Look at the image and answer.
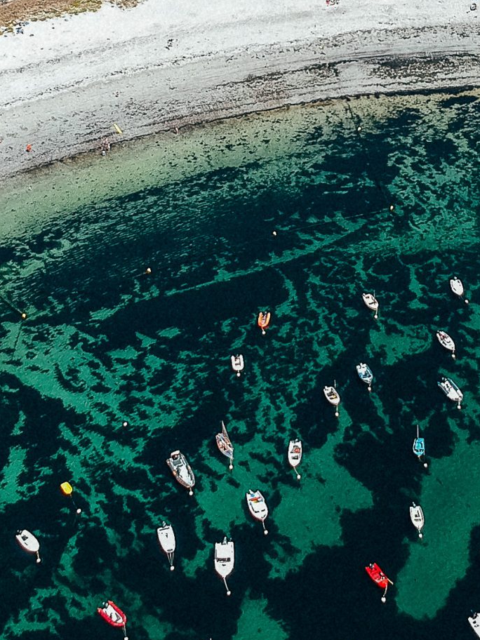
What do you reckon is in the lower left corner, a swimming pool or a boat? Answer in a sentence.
The feature located in the lower left corner is a boat.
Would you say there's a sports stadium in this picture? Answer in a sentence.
No, this view has no sports stadium in it.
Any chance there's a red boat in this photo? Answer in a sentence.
Yes, the frame does contain a red boat.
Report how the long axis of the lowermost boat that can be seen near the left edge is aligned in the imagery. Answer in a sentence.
The lowermost boat that can be seen near the left edge has been laid out diagonally relative to the frame.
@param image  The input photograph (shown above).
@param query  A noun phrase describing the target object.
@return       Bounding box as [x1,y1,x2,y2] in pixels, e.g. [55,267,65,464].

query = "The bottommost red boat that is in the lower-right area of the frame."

[365,563,387,594]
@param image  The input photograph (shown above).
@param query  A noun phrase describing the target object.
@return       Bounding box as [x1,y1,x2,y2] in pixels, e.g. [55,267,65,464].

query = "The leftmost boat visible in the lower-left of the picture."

[14,527,39,557]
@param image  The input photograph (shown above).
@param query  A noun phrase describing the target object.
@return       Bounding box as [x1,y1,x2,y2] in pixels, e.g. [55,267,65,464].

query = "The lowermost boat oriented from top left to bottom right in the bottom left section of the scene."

[96,599,126,632]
